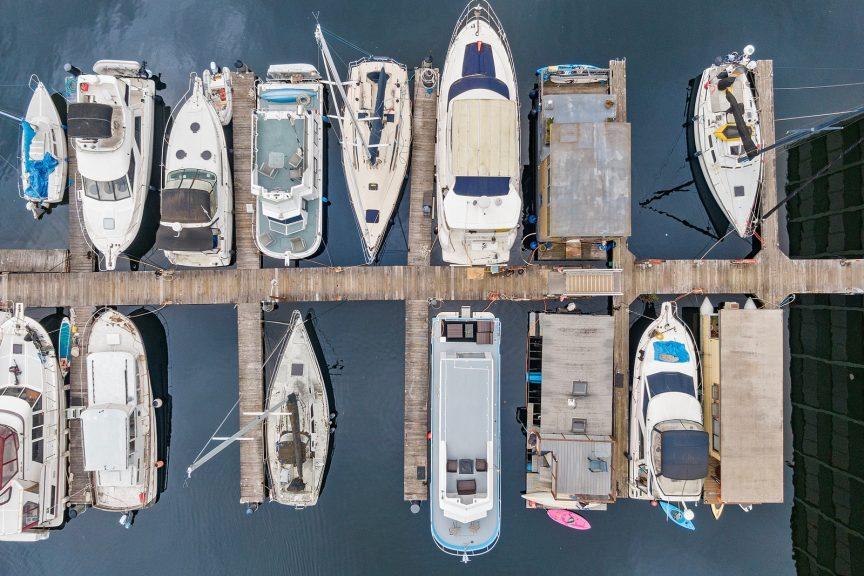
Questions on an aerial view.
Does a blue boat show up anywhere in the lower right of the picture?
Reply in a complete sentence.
Yes, a blue boat is visible in the lower right of the picture.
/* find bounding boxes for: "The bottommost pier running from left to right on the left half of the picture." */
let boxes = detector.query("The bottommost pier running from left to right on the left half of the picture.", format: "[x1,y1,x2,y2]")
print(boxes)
[0,264,606,307]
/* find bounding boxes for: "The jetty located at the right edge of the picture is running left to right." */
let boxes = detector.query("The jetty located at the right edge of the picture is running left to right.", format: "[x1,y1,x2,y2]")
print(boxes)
[633,260,864,295]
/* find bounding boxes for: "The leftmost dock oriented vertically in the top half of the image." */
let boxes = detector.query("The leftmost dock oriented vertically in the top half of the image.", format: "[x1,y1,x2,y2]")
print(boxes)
[69,137,96,272]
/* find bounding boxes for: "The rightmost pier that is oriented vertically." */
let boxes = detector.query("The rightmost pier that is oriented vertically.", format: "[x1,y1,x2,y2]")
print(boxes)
[754,61,778,261]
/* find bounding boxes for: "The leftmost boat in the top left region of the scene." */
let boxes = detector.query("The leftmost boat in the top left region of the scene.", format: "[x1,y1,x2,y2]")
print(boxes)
[0,75,70,218]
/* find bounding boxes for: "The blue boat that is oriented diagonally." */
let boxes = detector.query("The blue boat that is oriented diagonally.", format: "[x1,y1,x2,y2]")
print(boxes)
[660,503,696,531]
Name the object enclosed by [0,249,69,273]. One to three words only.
pier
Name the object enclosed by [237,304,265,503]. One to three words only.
pier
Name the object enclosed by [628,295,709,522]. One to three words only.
boat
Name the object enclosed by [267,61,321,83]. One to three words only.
boat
